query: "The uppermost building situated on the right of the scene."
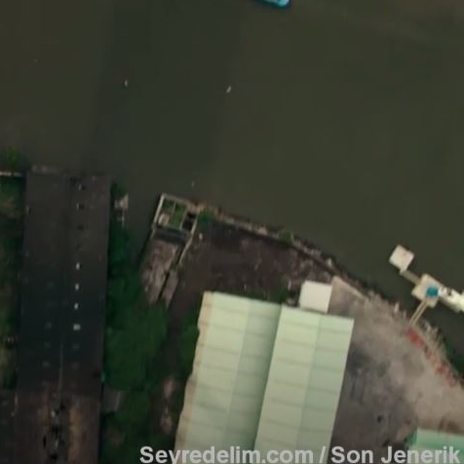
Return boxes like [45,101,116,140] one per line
[293,281,333,312]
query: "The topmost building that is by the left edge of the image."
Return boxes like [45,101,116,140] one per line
[16,167,111,396]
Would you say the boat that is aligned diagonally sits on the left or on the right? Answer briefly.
right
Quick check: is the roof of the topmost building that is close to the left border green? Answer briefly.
No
